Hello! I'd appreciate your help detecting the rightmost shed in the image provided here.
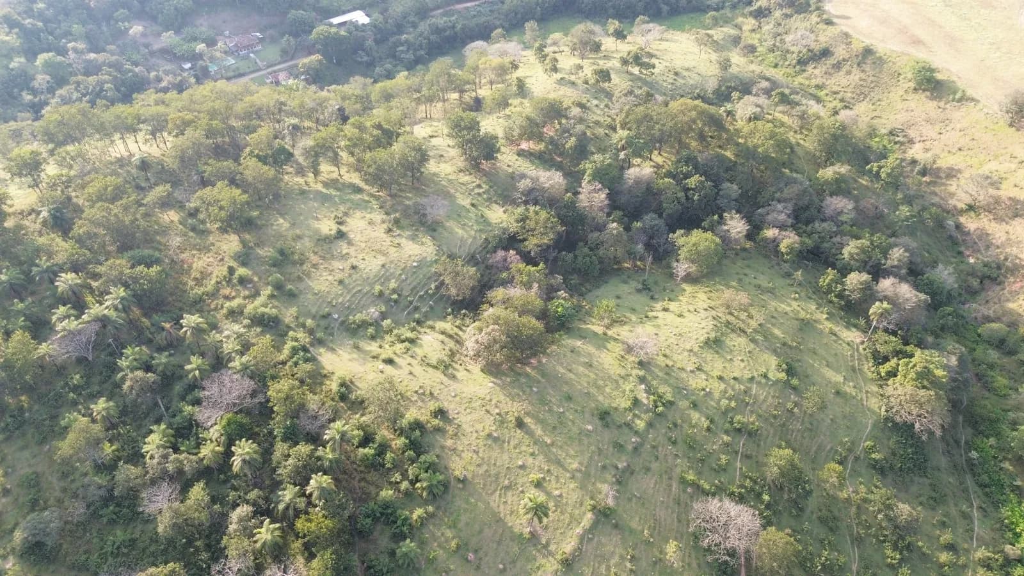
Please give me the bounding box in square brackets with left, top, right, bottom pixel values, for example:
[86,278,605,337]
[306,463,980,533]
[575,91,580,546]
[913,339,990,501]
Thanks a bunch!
[327,12,374,27]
